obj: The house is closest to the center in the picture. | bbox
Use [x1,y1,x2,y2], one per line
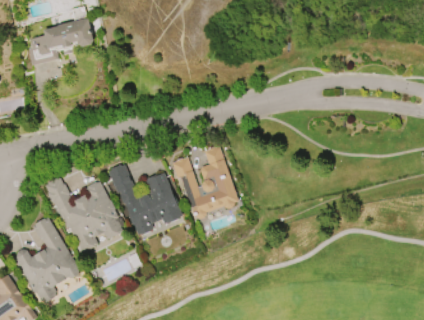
[172,148,240,222]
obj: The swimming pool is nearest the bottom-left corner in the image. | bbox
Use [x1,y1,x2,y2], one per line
[68,284,91,303]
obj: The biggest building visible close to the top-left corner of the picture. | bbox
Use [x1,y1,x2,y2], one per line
[31,19,94,64]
